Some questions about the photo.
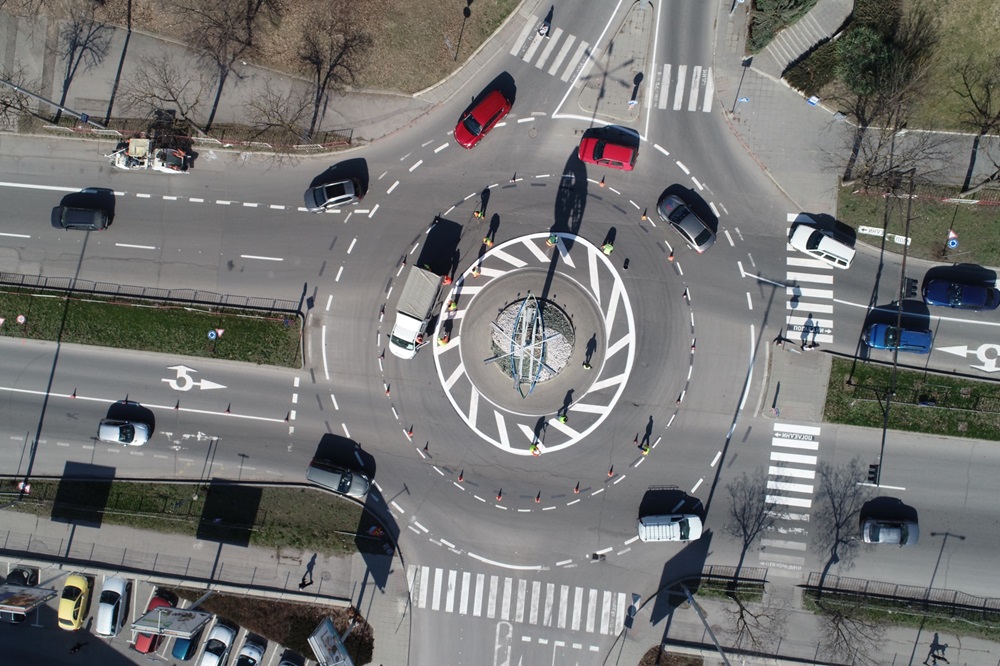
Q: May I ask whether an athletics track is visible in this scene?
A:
No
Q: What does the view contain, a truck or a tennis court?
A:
truck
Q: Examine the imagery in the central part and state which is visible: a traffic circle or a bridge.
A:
traffic circle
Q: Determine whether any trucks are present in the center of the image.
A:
Yes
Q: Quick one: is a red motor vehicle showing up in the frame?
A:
Yes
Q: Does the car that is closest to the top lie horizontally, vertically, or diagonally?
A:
diagonally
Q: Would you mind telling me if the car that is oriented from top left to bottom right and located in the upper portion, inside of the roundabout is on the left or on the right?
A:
right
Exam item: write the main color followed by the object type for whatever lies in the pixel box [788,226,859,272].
white car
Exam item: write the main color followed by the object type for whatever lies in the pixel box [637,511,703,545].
white vehicle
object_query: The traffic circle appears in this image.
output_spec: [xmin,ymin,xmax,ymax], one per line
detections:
[327,124,749,562]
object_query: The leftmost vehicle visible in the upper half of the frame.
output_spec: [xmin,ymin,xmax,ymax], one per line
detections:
[49,201,113,235]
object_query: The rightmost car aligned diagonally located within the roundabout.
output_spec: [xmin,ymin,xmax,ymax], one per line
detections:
[651,195,721,258]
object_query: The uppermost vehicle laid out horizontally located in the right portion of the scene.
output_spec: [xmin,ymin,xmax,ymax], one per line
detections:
[576,136,640,170]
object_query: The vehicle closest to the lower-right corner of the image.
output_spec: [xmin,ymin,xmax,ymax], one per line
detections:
[859,516,919,549]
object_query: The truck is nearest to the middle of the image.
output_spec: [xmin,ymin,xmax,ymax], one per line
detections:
[385,266,441,358]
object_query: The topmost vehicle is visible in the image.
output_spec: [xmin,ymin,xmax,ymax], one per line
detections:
[454,85,515,149]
